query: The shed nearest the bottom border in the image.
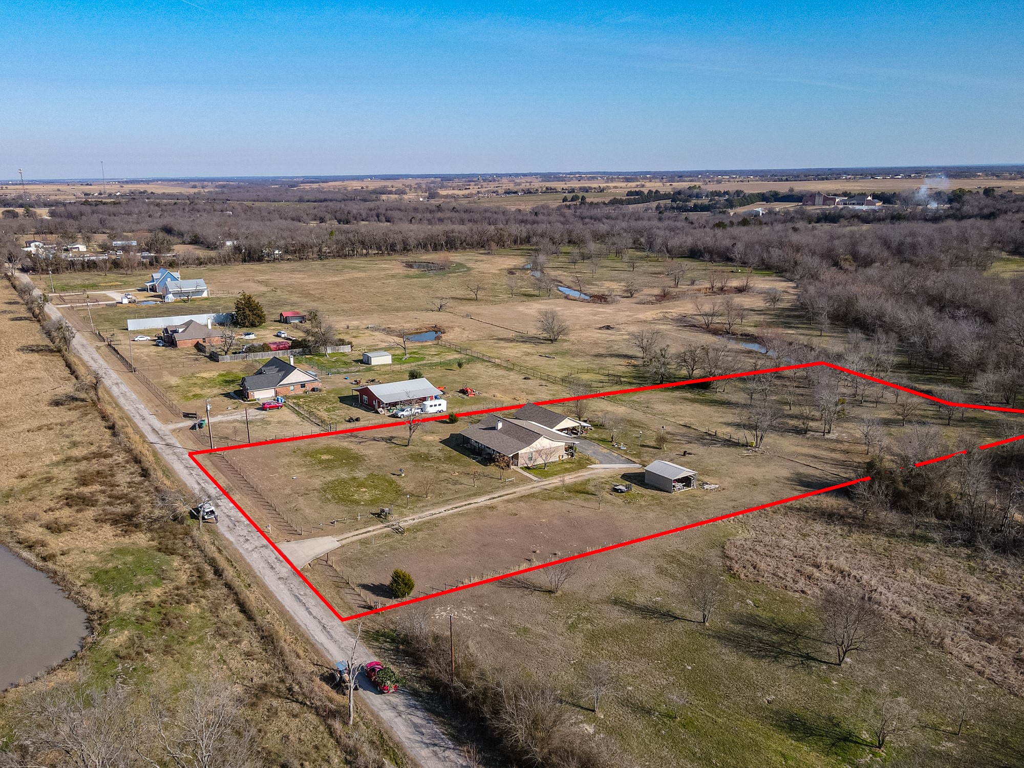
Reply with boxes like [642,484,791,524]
[644,459,697,494]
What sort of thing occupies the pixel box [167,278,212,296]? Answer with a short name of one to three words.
barn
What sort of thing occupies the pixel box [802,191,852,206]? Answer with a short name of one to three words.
building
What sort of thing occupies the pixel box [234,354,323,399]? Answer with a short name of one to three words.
house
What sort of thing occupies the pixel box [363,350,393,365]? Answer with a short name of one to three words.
shed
